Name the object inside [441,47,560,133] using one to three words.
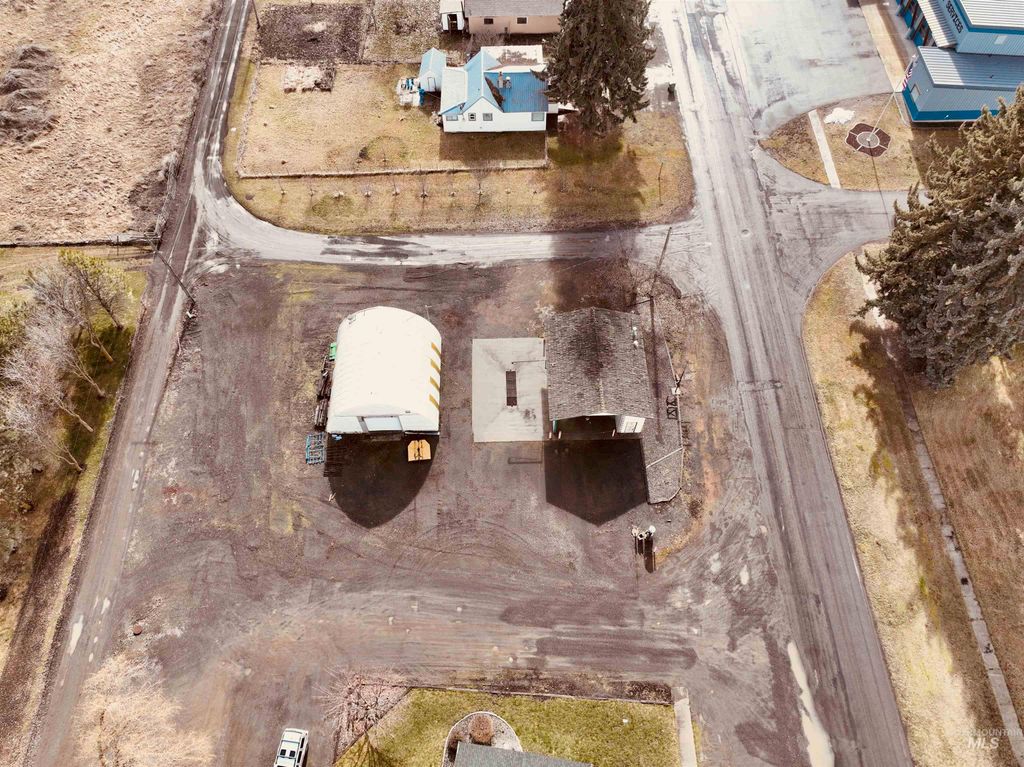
house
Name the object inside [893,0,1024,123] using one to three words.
building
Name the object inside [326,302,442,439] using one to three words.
shed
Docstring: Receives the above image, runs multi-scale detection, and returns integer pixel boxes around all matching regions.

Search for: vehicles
[277,729,315,767]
